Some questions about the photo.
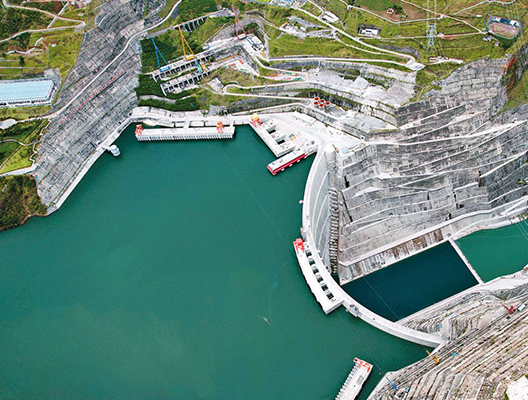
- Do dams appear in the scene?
Yes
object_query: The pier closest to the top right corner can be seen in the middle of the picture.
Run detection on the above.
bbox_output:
[268,147,318,179]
